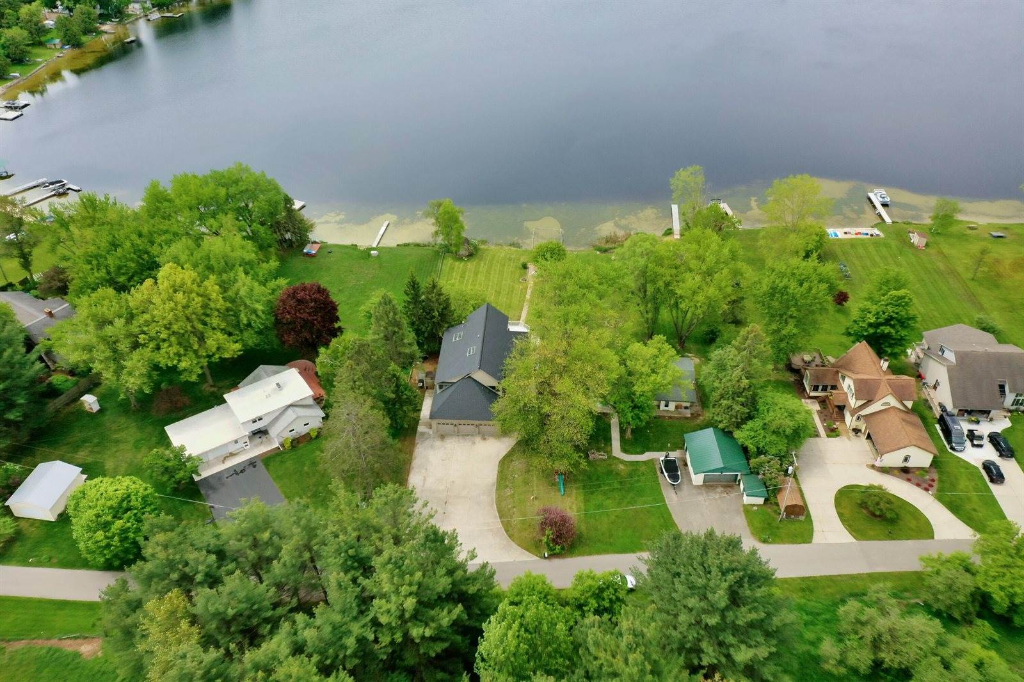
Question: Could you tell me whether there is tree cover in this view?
Yes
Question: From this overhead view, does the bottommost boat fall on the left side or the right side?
right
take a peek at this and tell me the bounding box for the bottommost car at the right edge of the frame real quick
[977,459,1010,484]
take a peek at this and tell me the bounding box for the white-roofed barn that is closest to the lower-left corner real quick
[5,460,90,525]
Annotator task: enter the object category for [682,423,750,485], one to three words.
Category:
building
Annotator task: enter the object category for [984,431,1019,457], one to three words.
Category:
car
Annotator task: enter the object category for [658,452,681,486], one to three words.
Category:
boat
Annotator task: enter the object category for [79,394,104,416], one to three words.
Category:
shed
